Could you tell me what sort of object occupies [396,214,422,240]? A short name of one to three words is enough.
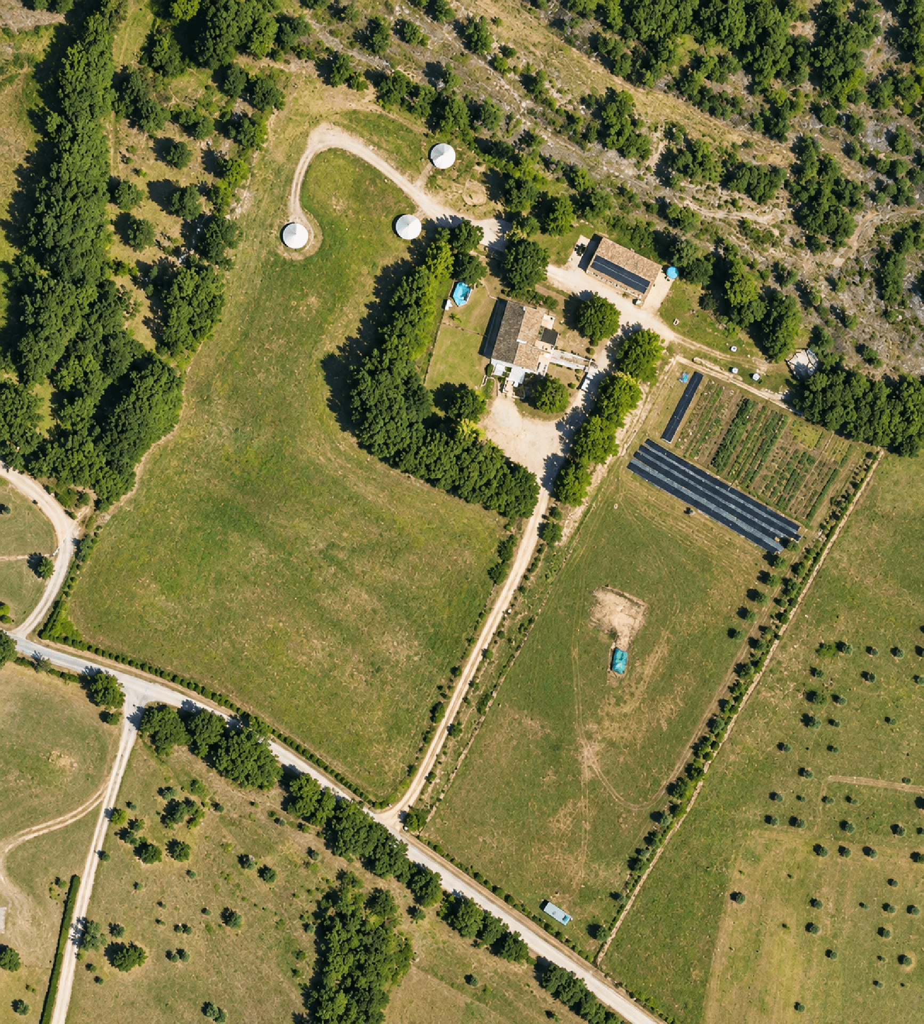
tent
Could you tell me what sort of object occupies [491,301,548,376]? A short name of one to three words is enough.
house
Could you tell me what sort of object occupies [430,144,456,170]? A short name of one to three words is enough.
tent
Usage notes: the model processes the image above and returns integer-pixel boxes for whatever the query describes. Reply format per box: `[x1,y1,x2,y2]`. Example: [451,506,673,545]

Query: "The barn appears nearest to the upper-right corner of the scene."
[587,238,661,298]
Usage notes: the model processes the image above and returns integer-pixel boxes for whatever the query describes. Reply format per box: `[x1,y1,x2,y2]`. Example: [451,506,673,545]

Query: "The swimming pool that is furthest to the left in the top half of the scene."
[453,282,471,306]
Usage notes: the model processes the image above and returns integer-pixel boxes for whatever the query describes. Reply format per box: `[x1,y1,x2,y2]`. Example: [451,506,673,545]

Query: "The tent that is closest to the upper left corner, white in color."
[282,223,308,249]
